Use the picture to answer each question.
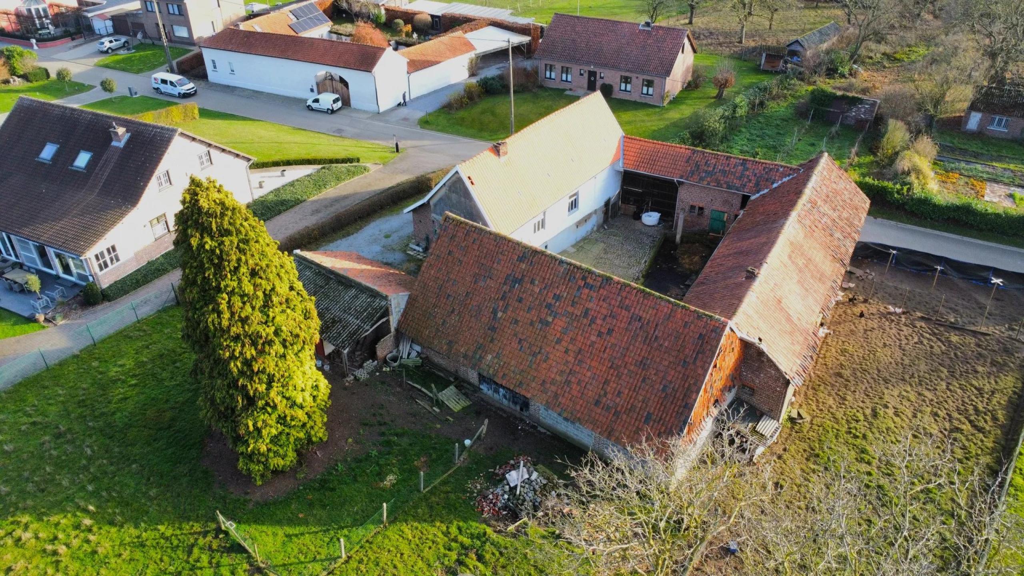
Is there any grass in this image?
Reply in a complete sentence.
Yes, there is grass in the image.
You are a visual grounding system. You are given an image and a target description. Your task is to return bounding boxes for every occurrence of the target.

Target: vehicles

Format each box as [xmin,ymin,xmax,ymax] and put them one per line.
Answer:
[97,36,125,51]
[306,92,343,114]
[152,73,197,97]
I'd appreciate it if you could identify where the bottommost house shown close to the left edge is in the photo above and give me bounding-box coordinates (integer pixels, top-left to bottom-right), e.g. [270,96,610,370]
[0,97,259,287]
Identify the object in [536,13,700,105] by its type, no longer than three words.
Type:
house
